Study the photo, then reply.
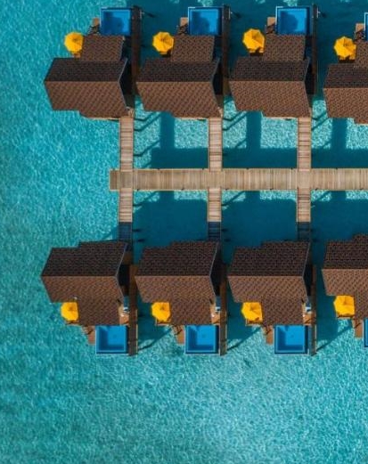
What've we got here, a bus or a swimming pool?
swimming pool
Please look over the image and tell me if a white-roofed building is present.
No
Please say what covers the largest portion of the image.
water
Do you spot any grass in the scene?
No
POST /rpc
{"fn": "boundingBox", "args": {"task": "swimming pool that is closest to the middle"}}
[182,322,219,356]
